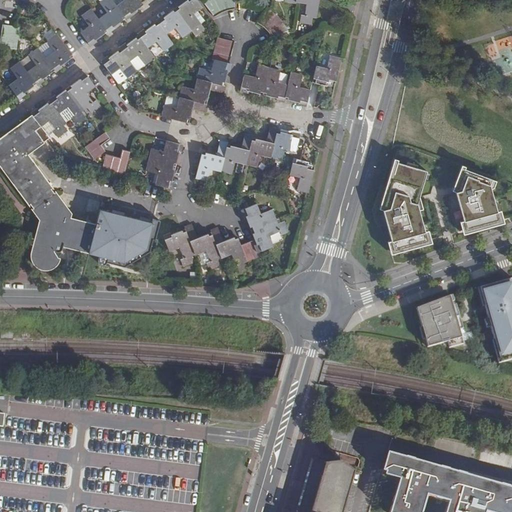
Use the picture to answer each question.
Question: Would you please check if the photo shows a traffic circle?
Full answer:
Yes, the photo shows a traffic circle.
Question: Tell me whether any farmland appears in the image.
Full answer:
No, there's no farmland in this view.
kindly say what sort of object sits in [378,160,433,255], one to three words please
building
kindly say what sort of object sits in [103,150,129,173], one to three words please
house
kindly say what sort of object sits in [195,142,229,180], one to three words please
house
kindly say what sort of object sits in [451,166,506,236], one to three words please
building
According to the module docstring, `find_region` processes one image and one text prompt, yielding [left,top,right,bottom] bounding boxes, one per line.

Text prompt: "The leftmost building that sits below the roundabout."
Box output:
[311,449,358,512]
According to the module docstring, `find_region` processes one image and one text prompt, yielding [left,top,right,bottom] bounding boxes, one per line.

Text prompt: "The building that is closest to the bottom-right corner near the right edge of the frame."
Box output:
[382,446,512,512]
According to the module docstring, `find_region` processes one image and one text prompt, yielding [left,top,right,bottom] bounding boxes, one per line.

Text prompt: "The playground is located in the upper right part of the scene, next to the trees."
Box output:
[486,36,512,72]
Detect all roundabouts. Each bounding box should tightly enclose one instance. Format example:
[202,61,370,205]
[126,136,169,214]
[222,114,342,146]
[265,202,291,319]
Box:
[271,258,363,354]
